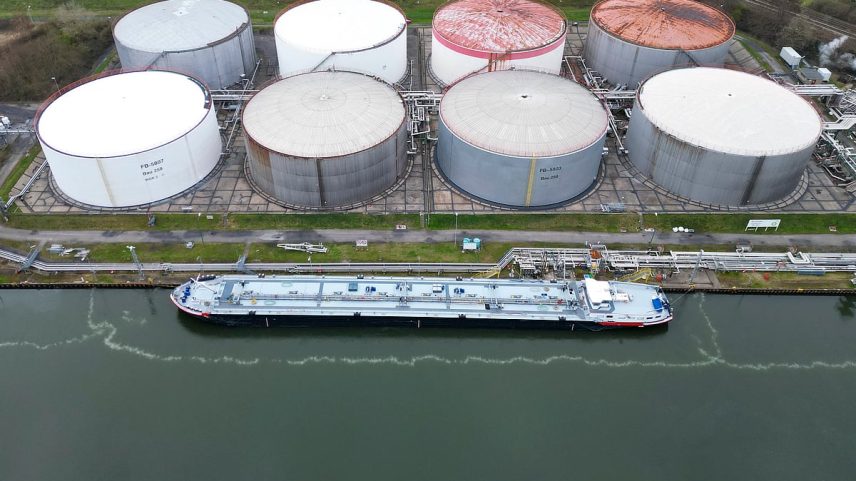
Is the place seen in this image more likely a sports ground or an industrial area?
industrial area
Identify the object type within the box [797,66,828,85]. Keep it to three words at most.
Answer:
shed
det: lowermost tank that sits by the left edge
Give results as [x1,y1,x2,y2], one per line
[32,68,232,212]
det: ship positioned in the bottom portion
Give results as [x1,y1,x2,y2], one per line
[169,271,674,332]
